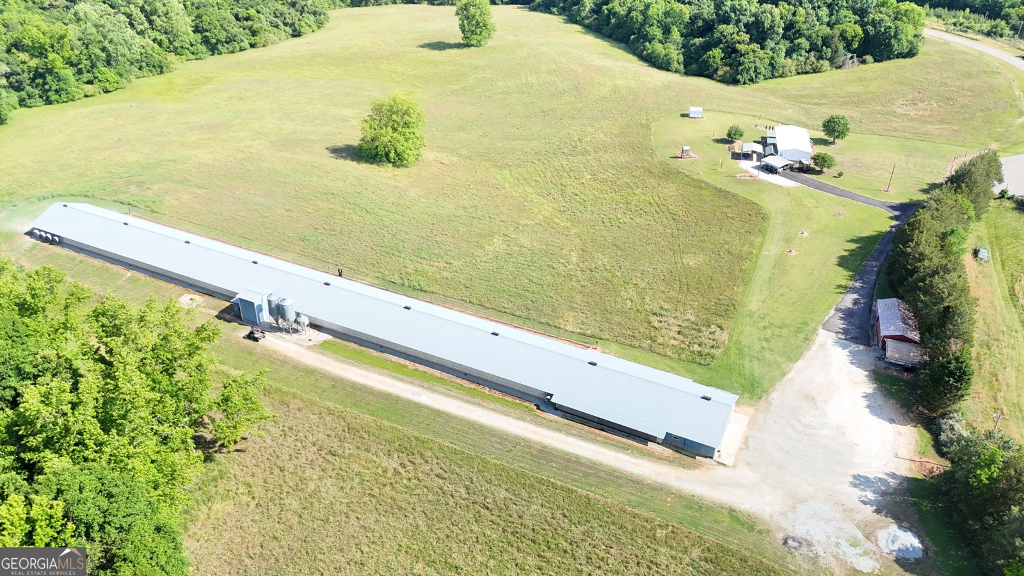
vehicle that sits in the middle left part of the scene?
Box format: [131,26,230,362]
[246,326,265,339]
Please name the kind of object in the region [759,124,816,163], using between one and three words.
house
